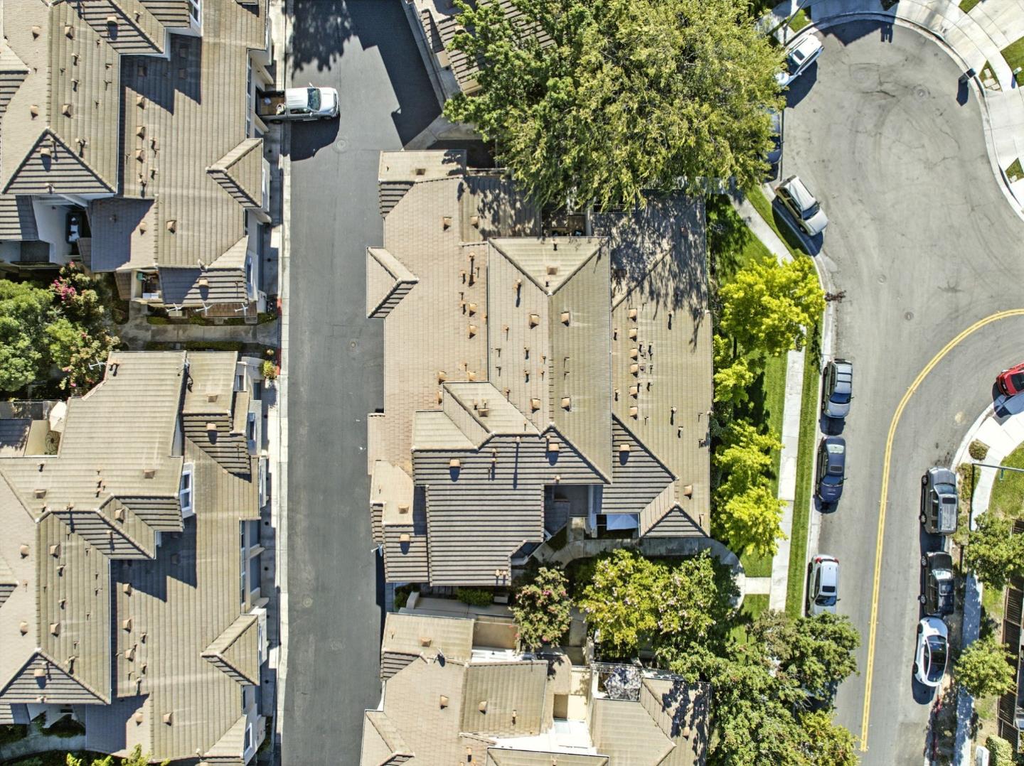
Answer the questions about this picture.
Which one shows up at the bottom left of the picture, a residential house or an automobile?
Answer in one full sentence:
What appears at the bottom left of the picture is a residential house.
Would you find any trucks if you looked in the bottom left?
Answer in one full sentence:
No, in the bottom left there is no truck.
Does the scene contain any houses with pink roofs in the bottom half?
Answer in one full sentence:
No, no house with a pink roof can be made out in the bottom half.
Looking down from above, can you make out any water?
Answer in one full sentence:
No, there's no water in this view.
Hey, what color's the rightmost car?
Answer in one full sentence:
The rightmost car looks red in the image.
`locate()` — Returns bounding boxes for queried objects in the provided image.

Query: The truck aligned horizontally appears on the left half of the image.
[262,85,340,121]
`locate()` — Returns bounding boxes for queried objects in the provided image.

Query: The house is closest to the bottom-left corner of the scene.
[0,350,277,766]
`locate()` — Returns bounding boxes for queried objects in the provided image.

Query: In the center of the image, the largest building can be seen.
[365,148,713,587]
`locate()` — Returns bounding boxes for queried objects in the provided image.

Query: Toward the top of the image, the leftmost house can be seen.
[0,0,282,318]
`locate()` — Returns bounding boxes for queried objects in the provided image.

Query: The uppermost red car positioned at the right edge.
[996,358,1024,392]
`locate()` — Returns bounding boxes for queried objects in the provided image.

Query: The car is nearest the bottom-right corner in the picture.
[908,616,945,684]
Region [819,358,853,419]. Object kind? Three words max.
car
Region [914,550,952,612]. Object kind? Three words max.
car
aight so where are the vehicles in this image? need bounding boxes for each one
[916,467,954,533]
[813,435,847,501]
[780,36,825,93]
[262,85,340,121]
[914,550,952,612]
[996,358,1024,392]
[819,358,853,419]
[908,616,945,684]
[804,553,838,612]
[765,173,821,235]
